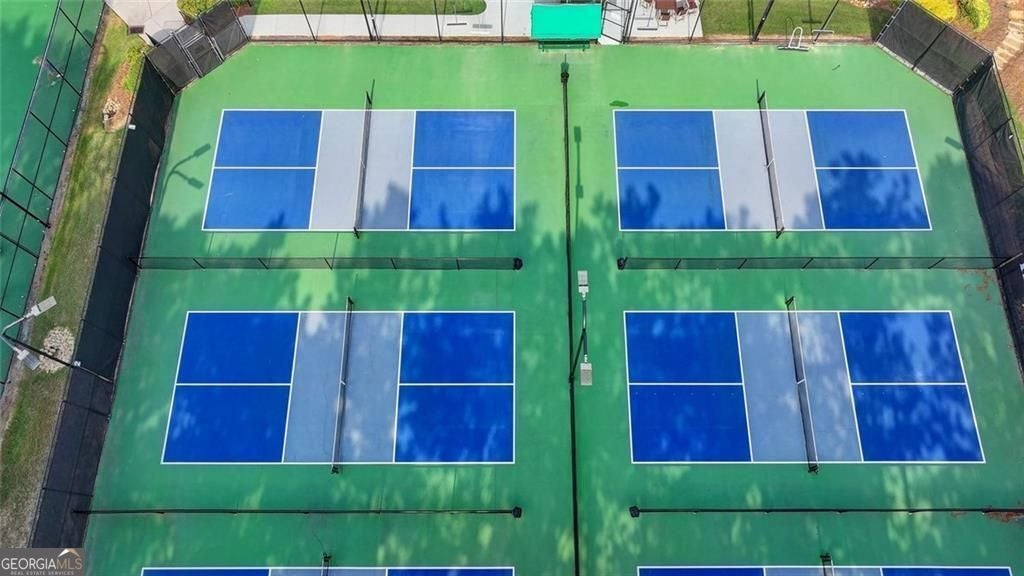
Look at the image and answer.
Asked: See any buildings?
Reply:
No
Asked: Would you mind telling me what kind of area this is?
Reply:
sports ground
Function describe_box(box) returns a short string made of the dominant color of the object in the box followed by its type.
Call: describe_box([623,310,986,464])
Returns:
blue sports court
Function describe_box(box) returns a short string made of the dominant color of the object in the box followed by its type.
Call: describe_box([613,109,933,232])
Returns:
blue sports court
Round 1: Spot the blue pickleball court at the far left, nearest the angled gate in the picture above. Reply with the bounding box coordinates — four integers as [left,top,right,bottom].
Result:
[201,109,516,232]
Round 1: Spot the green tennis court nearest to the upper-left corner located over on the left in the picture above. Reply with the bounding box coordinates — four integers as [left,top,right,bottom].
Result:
[0,0,105,415]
